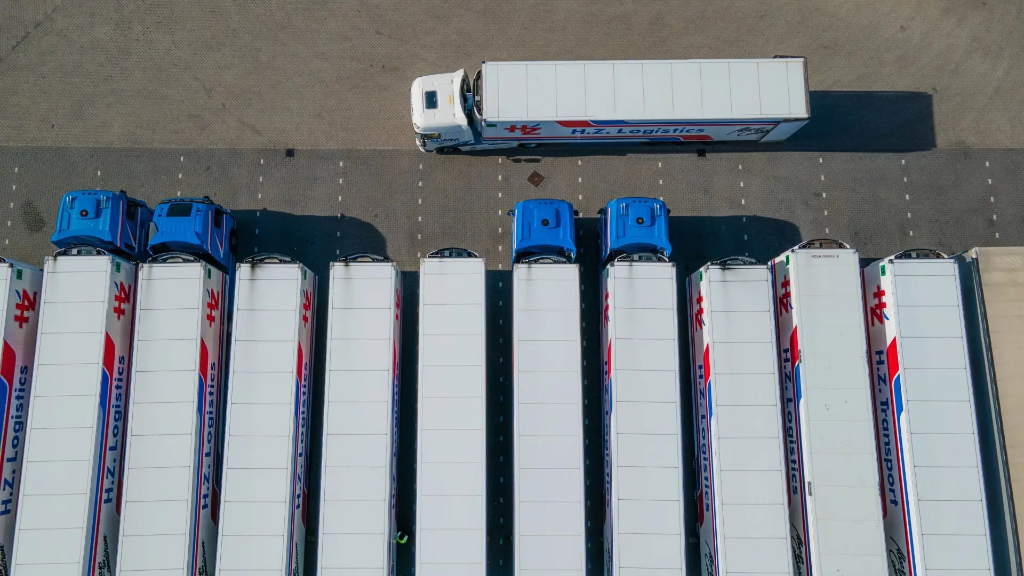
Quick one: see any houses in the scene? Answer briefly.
No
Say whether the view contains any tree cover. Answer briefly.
No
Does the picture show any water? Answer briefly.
No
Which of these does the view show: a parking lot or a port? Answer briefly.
parking lot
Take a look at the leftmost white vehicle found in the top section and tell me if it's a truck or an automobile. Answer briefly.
truck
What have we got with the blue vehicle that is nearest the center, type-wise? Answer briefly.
truck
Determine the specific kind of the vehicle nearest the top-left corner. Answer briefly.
truck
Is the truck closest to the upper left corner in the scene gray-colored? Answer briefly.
No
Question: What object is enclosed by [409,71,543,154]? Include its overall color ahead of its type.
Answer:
white truck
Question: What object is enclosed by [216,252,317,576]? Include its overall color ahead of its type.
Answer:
white trailer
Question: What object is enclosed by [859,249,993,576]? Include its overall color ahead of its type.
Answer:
white trailer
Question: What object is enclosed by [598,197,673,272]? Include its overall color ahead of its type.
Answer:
blue truck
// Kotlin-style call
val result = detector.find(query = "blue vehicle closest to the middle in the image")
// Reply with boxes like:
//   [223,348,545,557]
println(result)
[508,198,581,264]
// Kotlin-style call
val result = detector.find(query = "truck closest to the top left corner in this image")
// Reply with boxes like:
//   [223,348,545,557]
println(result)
[51,190,151,267]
